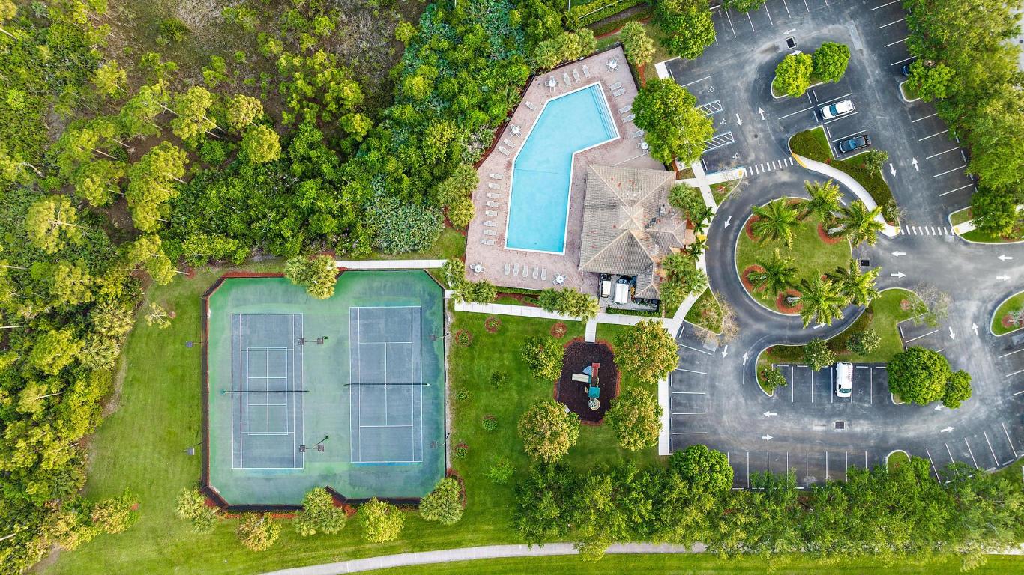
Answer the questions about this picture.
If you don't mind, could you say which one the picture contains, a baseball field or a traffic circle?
traffic circle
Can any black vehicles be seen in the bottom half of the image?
No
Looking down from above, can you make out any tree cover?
Yes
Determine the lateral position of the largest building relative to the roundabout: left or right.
to the left of it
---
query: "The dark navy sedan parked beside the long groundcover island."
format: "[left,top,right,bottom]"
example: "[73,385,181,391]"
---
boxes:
[840,133,873,152]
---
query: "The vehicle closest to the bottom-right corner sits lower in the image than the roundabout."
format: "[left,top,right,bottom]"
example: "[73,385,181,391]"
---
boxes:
[833,360,851,395]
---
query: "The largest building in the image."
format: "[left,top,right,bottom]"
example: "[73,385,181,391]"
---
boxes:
[580,164,689,299]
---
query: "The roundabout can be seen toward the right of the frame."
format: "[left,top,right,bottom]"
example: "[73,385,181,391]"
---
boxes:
[709,171,878,341]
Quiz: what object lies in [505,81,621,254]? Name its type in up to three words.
swimming pool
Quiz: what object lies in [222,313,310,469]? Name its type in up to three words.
tennis court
